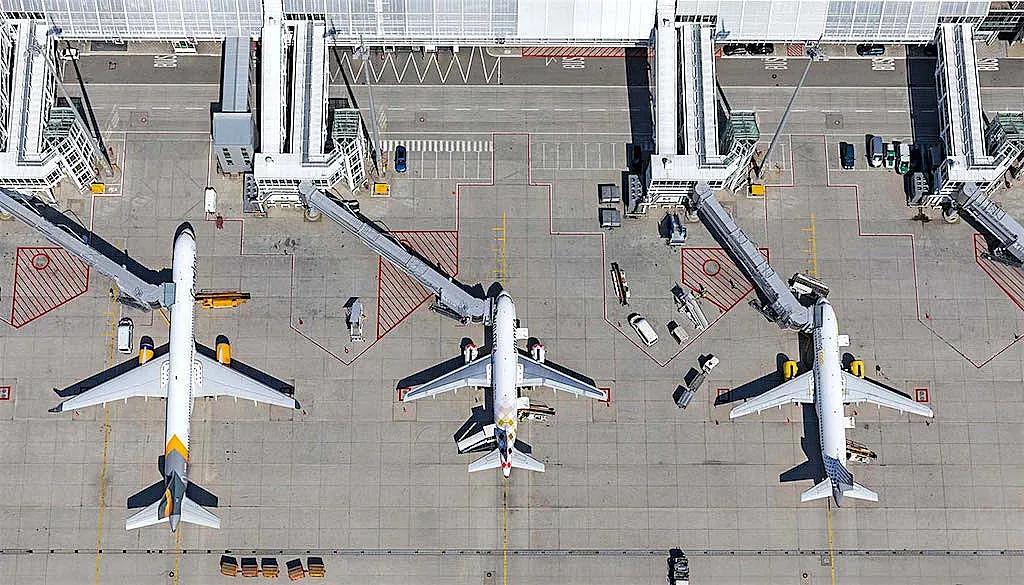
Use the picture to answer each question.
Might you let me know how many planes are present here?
3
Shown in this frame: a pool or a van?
van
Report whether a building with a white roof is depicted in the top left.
Yes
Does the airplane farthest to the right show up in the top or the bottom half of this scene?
bottom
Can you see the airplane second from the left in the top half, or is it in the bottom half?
bottom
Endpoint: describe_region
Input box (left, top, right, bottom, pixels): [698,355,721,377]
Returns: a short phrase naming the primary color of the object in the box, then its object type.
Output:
white work vehicle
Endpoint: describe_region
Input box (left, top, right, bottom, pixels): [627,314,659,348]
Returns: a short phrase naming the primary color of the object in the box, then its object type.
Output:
white van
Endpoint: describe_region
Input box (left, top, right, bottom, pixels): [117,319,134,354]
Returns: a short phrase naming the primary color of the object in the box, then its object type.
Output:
white vehicle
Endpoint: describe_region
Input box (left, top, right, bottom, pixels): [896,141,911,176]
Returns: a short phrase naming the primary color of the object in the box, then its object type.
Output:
white vehicle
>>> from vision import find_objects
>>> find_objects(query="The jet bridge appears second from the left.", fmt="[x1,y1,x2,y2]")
[297,180,498,329]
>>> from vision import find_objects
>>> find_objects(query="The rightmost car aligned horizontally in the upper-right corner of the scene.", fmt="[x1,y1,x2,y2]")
[857,44,885,57]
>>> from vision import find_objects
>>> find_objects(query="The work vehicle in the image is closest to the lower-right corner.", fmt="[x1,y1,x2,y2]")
[844,444,878,466]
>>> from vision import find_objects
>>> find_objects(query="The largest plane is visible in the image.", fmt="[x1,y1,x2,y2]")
[49,223,300,533]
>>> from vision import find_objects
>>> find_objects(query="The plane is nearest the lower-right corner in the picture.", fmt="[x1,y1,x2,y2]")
[730,298,934,508]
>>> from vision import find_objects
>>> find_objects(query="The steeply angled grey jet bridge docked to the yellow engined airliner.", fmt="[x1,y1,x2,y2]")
[685,181,832,337]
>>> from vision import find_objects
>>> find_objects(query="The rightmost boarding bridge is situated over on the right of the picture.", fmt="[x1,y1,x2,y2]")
[941,183,1024,254]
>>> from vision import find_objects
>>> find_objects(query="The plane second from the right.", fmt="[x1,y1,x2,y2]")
[403,292,607,478]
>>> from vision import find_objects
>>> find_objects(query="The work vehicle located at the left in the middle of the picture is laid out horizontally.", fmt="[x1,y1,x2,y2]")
[196,290,251,310]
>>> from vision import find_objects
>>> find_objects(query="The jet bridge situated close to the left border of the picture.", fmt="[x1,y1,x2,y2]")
[0,192,179,315]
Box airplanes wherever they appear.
[49,223,300,533]
[403,292,607,478]
[730,298,934,508]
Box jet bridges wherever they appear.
[685,181,832,337]
[0,192,179,315]
[297,180,498,329]
[941,183,1024,254]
